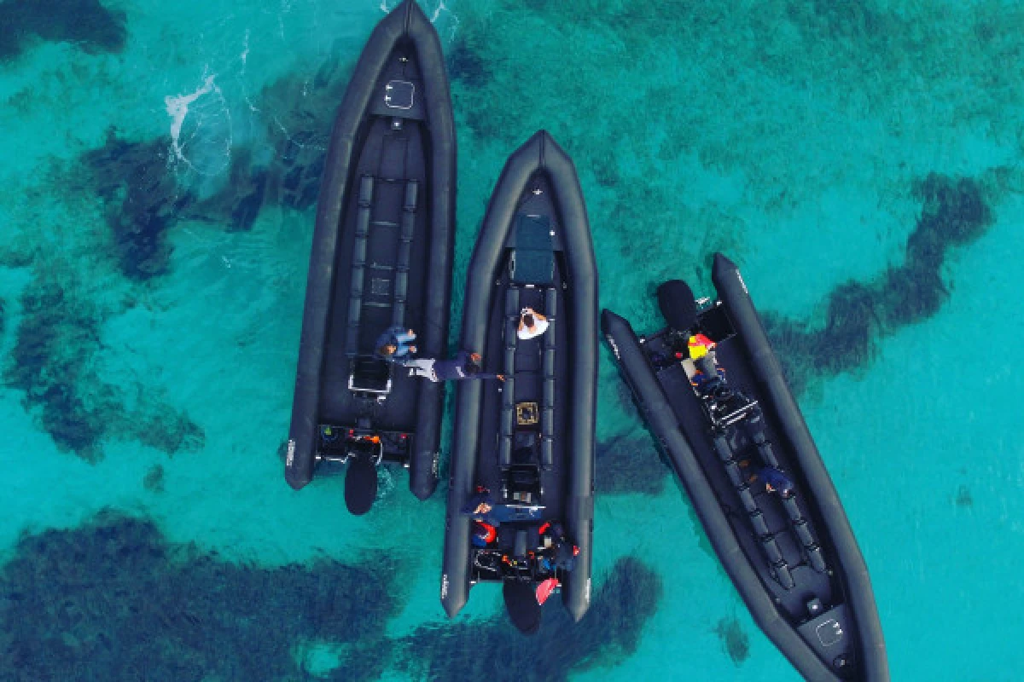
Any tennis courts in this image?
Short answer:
No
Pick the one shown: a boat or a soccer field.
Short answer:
boat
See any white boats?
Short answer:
No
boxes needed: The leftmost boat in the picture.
[287,0,460,514]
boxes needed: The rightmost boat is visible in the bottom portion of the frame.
[603,254,890,682]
